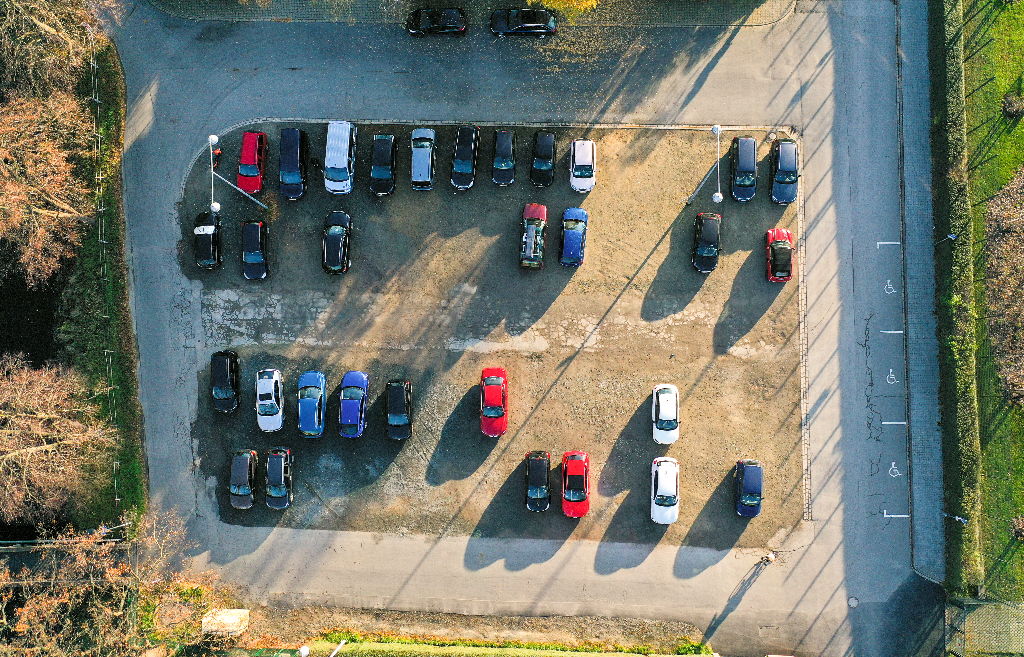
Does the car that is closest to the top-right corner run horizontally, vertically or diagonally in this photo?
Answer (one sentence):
Seen from above, the car that is closest to the top-right corner lies vertically.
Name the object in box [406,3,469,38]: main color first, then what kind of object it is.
black car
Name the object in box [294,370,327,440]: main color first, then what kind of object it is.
blue car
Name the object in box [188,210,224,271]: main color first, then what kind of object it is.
black car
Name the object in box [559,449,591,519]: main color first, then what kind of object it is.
red car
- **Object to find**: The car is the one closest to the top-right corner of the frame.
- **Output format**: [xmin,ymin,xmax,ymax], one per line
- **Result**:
[768,136,802,207]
